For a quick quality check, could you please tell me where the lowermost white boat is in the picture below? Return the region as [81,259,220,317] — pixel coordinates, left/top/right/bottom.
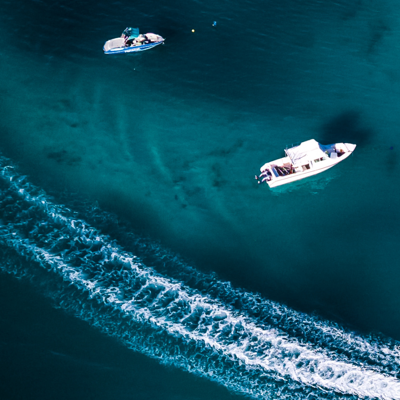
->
[250,144,358,192]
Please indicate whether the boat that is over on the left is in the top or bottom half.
top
